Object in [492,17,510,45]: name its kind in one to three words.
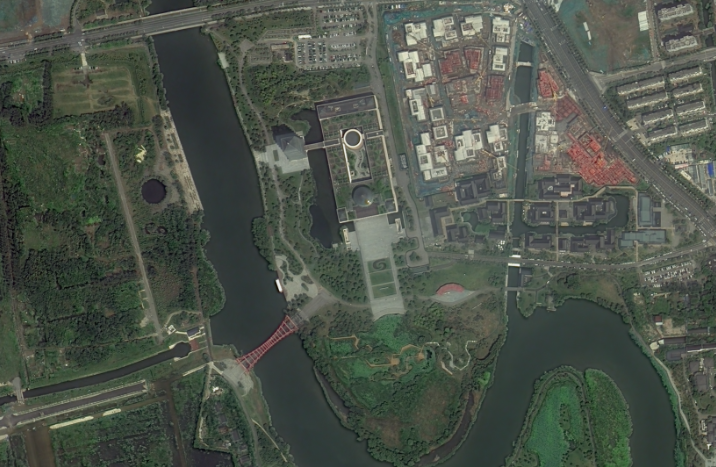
building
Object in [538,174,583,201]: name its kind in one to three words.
house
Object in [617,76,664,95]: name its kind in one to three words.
building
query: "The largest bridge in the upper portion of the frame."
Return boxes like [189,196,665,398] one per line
[142,5,208,37]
